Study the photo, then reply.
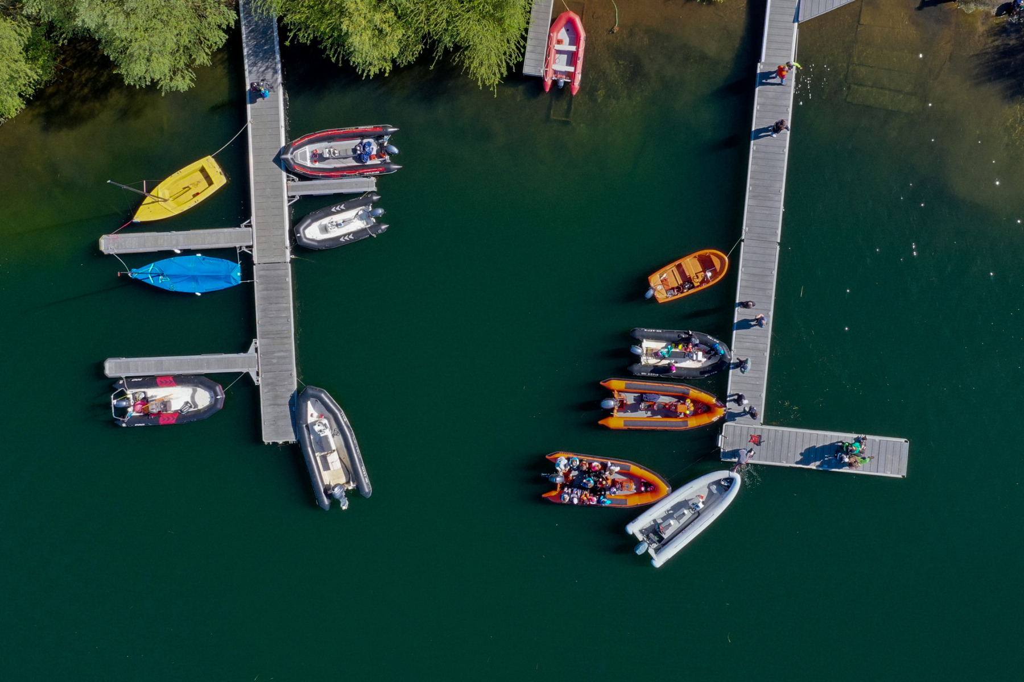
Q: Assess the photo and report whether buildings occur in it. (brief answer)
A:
No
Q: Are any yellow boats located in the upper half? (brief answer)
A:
Yes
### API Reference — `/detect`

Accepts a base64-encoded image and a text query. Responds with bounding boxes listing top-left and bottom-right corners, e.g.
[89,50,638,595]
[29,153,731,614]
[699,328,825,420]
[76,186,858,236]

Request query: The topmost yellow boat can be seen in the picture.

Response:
[106,156,227,224]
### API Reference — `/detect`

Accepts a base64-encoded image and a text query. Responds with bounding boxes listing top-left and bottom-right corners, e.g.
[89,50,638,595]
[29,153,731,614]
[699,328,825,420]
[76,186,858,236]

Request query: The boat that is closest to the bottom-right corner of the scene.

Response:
[626,468,743,569]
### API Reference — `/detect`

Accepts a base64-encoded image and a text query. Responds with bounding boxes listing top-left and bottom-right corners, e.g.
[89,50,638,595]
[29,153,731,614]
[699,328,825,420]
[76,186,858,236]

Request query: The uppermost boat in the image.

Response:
[544,9,586,97]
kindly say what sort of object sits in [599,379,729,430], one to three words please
boat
